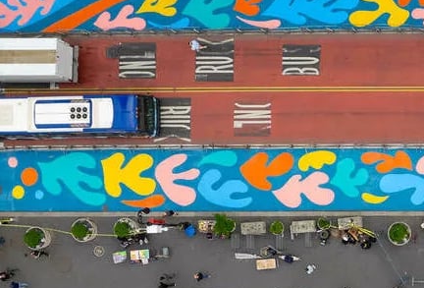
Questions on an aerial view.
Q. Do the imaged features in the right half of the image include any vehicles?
No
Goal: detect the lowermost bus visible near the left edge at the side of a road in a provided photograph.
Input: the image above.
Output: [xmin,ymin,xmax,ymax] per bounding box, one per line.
[0,93,160,137]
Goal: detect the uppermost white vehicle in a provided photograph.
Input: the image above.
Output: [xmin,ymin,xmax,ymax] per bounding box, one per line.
[0,40,86,84]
